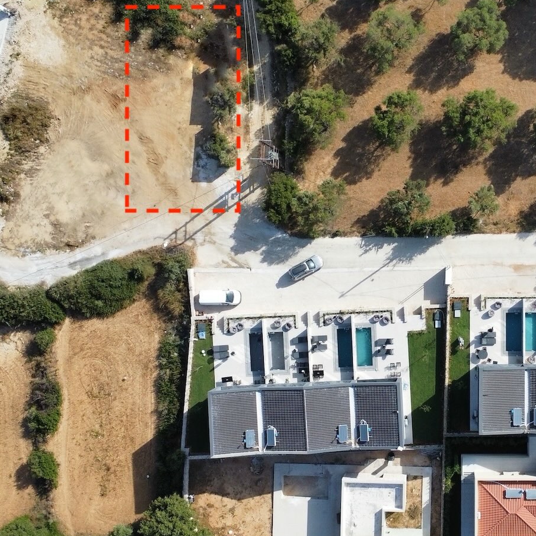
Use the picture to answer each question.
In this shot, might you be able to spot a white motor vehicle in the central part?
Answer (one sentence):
Yes, you'll find a white motor vehicle in the central part.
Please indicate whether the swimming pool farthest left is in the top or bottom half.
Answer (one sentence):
The swimming pool farthest left sits in the bottom half of the picture.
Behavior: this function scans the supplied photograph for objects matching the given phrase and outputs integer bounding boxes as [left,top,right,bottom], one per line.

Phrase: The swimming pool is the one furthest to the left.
[243,326,267,377]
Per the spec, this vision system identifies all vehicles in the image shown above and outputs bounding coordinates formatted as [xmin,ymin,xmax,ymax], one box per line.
[285,255,323,282]
[199,288,241,307]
